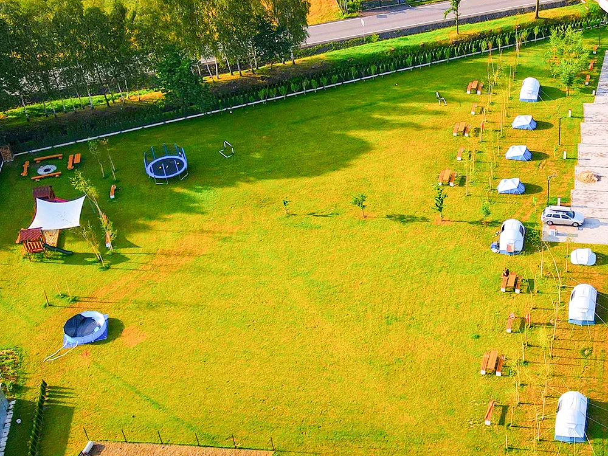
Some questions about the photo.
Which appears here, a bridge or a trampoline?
trampoline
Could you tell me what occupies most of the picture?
grass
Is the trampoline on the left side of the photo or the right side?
left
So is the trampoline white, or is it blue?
blue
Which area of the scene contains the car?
right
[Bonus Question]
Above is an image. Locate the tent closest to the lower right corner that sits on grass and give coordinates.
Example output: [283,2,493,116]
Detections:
[540,388,606,456]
